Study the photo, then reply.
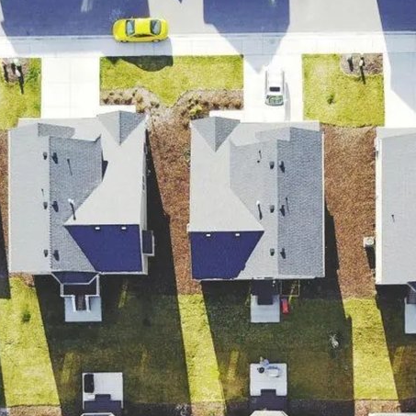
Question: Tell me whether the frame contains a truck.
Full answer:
No, there isn't any truck down there.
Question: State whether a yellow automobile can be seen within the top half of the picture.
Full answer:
Yes, within the top half of the picture there is a yellow automobile.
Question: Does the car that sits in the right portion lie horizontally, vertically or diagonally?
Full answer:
The car that sits in the right portion is laid out vertically.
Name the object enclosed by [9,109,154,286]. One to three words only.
house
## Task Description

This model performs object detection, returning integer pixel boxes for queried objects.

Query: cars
[114,17,169,45]
[262,66,288,124]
